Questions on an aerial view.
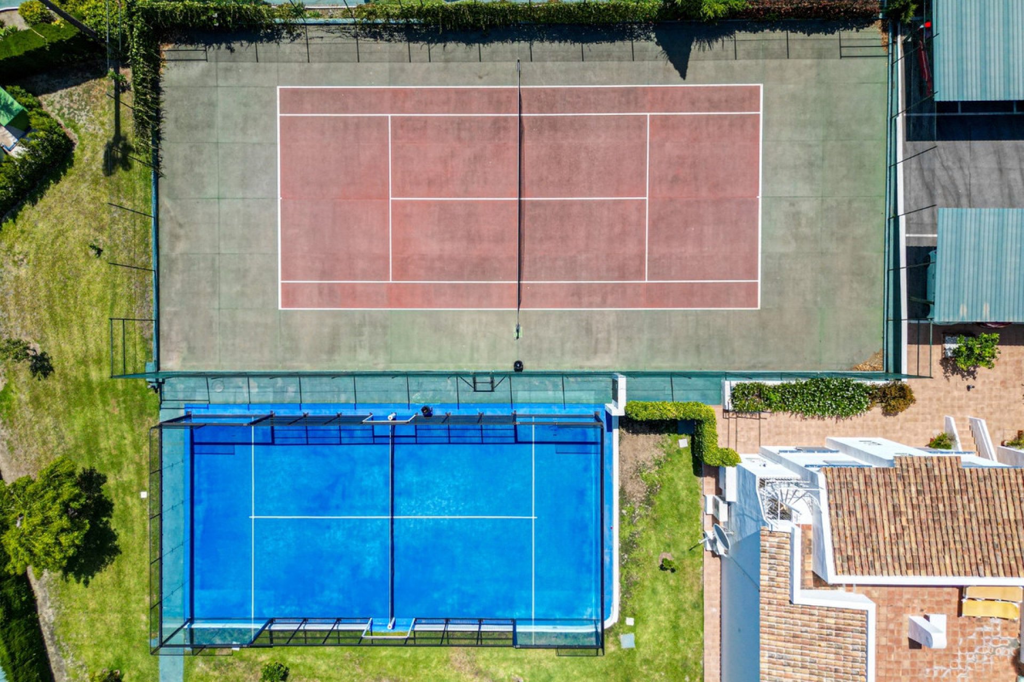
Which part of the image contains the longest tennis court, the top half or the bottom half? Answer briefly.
top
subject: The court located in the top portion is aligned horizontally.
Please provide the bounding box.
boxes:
[155,22,888,370]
